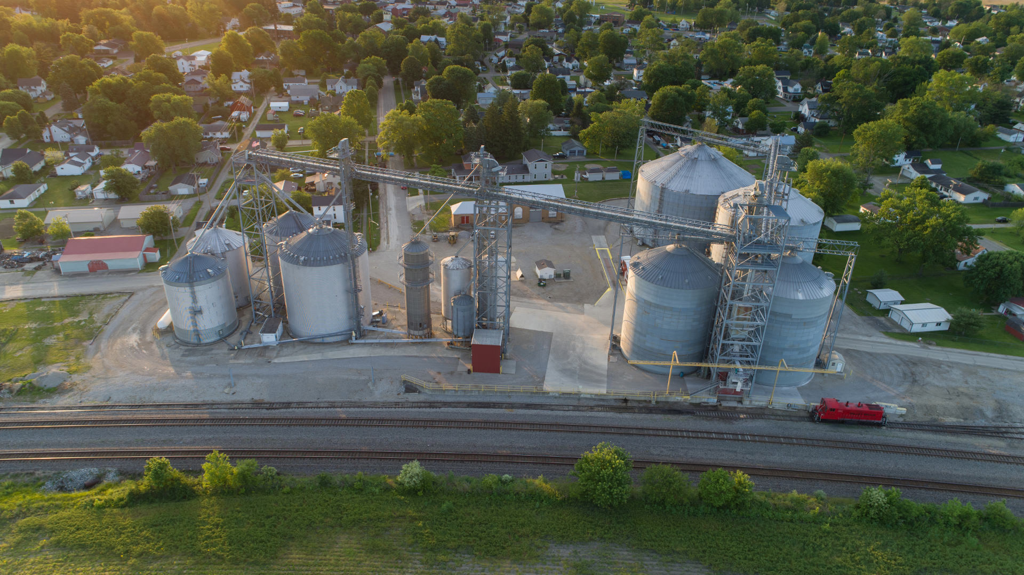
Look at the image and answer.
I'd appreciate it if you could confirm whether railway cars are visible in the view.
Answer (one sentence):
Yes, looking at the shot, I can spot a railway car.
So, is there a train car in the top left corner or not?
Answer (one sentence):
No, I can find no train car in the top left corner.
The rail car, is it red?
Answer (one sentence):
Yes, the rail car is indeed red.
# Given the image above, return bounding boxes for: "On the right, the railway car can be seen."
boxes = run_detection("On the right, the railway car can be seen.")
[813,397,890,429]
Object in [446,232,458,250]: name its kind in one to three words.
vehicle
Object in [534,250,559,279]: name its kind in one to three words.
shed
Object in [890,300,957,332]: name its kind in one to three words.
building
